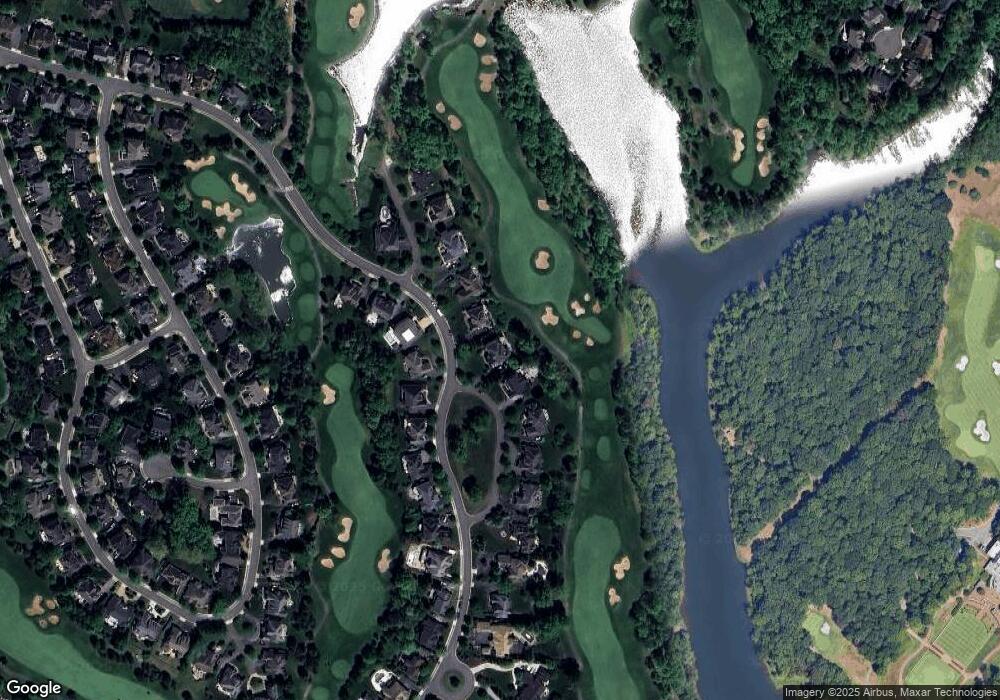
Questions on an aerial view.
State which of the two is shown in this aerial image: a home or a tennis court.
home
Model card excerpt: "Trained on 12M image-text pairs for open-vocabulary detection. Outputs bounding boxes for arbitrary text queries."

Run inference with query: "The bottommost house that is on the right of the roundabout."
[512,665,560,700]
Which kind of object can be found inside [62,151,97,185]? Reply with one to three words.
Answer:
house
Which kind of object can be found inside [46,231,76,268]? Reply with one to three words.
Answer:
house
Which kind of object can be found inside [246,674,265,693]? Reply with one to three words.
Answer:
swimming pool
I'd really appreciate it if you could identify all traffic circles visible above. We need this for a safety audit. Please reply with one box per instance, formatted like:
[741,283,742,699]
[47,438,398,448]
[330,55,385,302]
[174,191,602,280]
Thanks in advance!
[431,658,476,700]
